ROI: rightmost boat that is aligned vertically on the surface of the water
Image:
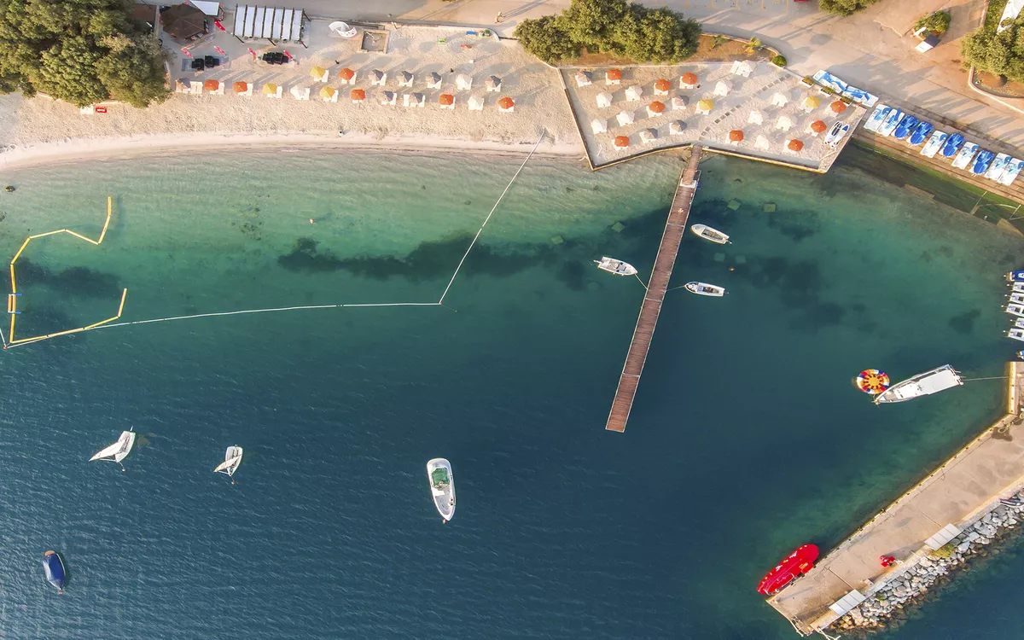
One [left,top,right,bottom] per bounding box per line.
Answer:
[427,458,453,520]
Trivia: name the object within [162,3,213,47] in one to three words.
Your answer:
building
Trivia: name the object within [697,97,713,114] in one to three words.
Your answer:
umbrella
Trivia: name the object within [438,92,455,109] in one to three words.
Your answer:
umbrella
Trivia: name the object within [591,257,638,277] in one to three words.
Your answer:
boat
